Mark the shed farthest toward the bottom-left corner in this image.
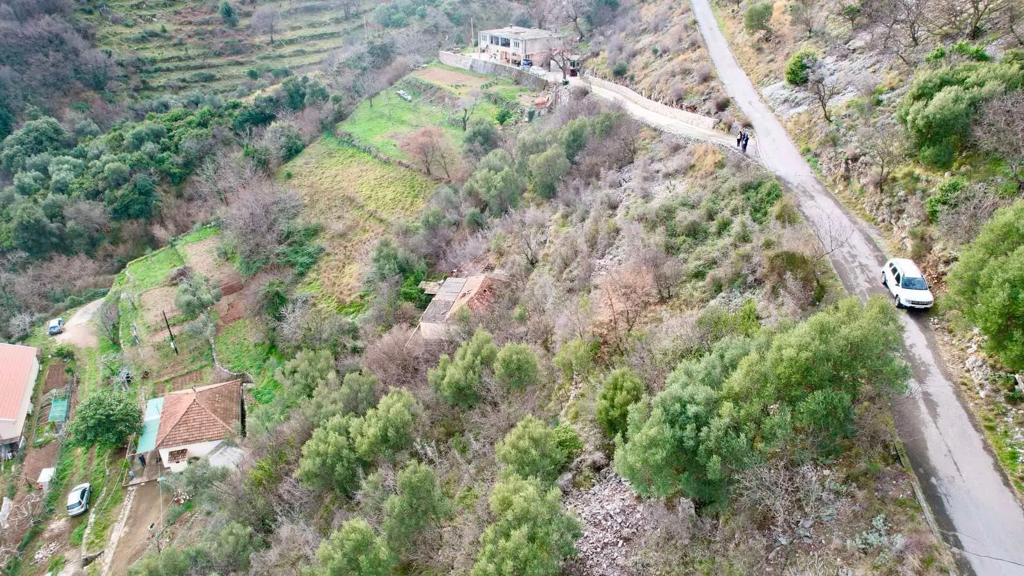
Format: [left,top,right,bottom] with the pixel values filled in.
[32,462,54,488]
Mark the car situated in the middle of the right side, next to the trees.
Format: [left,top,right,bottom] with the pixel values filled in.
[882,256,935,311]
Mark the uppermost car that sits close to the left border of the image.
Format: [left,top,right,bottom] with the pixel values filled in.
[46,317,65,338]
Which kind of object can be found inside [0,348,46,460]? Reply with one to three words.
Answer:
house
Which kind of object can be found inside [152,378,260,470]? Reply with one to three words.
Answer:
house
